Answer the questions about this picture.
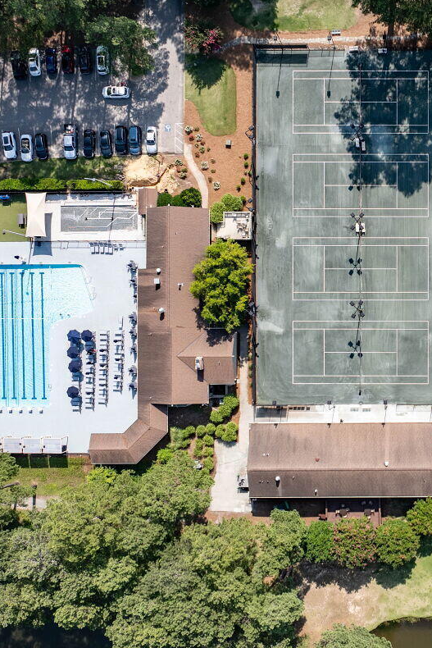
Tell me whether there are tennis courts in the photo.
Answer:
Yes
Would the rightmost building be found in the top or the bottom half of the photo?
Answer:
bottom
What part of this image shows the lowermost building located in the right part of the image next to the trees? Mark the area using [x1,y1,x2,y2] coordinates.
[246,422,432,499]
